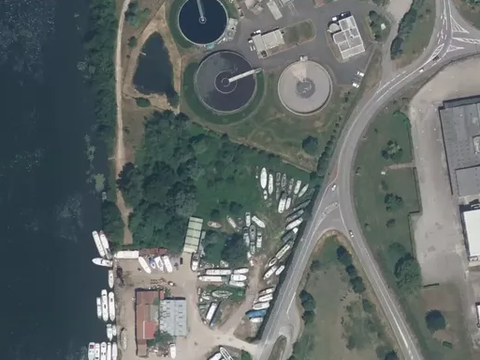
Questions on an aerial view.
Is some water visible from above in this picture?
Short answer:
Yes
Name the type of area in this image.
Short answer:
industrial area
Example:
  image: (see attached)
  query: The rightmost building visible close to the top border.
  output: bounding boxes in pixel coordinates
[334,15,366,58]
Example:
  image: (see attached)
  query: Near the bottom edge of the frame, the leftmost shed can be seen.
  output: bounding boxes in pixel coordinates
[136,290,159,357]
